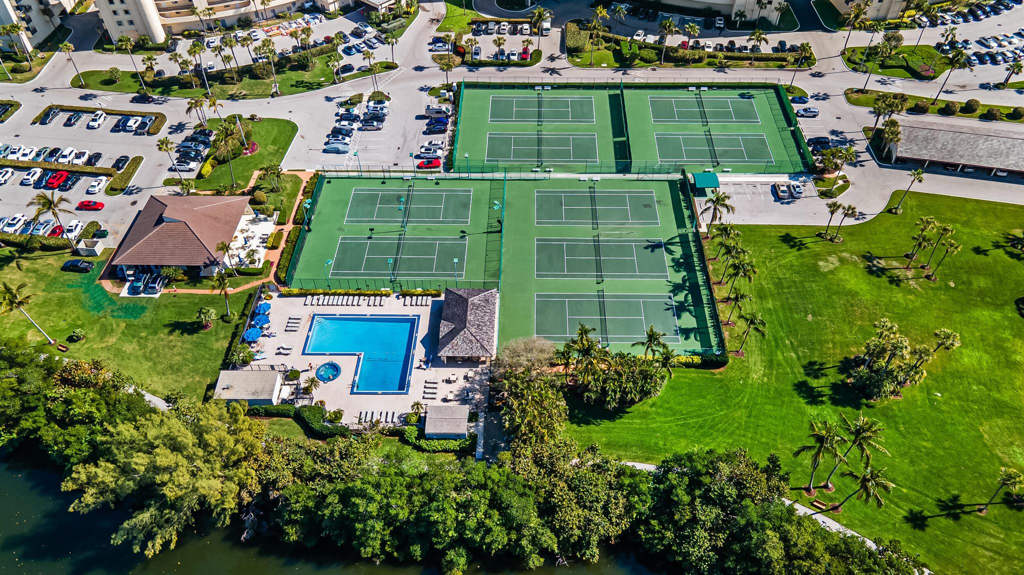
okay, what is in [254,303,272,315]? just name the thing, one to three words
umbrella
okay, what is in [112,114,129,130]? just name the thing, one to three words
car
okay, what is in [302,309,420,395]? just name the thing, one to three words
swimming pool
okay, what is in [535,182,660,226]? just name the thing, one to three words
tennis court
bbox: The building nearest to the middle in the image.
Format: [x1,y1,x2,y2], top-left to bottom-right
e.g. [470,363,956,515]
[438,288,496,366]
